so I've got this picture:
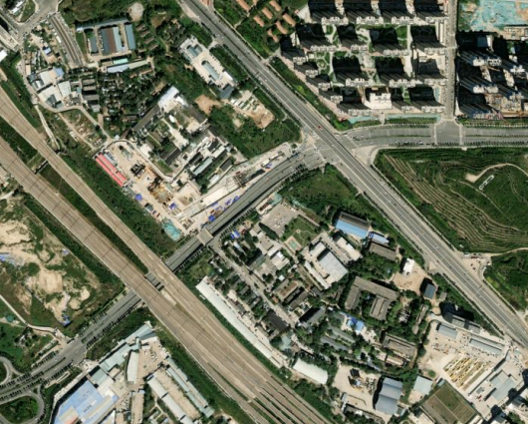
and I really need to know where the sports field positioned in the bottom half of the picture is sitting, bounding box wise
[421,378,477,424]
